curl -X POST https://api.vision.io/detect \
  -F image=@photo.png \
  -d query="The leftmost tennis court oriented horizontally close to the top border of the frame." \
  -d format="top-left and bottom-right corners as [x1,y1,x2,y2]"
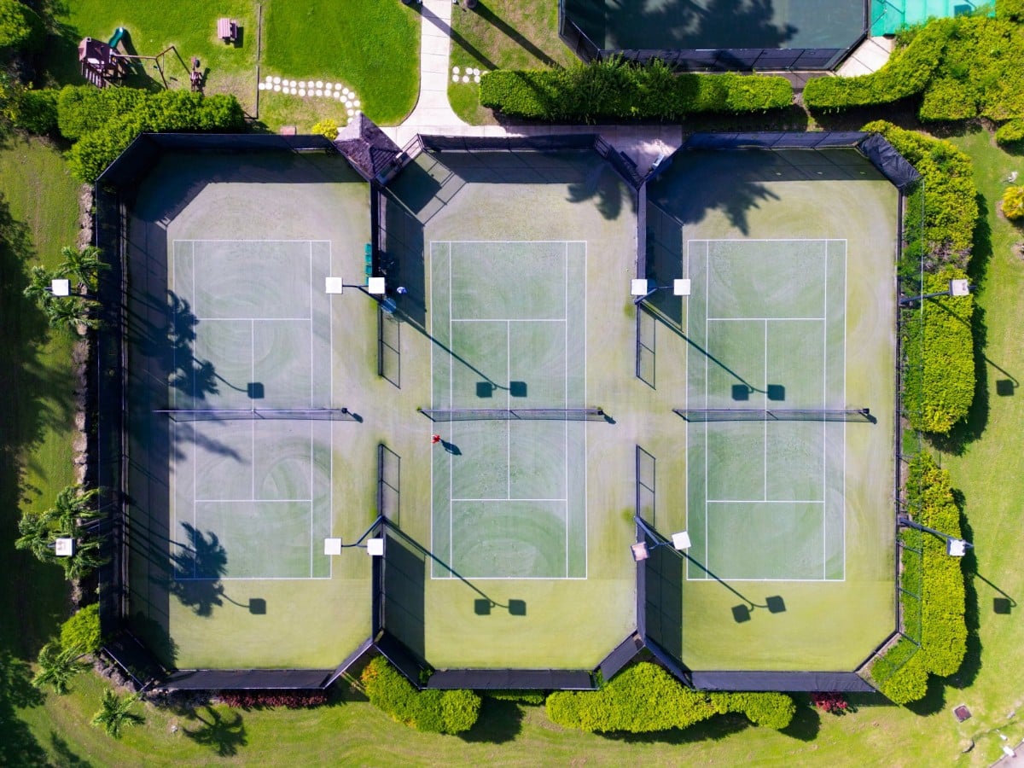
[561,0,867,70]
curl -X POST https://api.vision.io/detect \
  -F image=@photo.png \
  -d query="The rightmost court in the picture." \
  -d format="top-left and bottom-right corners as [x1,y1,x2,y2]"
[869,0,978,36]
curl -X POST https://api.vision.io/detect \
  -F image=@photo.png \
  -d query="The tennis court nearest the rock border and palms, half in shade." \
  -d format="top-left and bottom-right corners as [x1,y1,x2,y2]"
[121,149,381,670]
